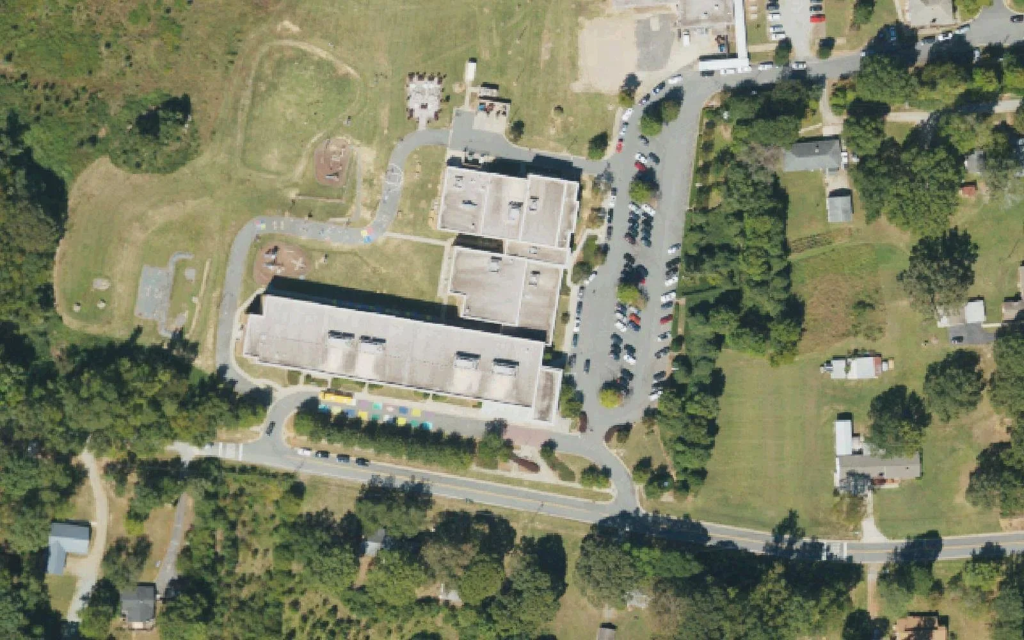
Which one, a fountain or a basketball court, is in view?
basketball court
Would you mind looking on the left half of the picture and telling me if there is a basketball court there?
Yes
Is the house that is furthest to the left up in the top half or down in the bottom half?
bottom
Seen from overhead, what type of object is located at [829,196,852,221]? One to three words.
shed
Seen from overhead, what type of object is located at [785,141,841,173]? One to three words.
house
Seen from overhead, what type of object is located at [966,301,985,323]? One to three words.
building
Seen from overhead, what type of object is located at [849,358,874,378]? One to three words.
shed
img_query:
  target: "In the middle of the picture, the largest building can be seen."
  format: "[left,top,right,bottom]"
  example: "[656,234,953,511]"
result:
[243,295,563,425]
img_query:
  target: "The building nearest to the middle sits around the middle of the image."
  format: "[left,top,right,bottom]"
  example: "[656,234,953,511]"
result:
[447,240,567,345]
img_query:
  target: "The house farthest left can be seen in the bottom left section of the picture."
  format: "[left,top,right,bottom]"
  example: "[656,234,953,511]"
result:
[48,522,96,574]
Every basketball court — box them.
[135,252,194,337]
